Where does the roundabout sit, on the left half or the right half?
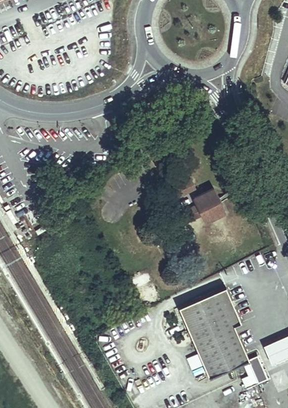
right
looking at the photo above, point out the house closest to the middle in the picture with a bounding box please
[182,184,228,224]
